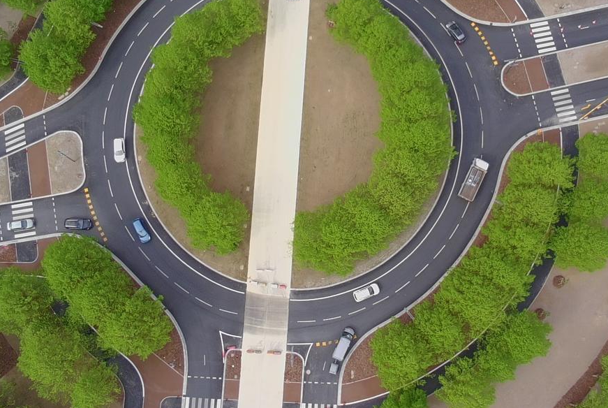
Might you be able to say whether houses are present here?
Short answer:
No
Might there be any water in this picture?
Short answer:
No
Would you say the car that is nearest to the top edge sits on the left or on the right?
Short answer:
right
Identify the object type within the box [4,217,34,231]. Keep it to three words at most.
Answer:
car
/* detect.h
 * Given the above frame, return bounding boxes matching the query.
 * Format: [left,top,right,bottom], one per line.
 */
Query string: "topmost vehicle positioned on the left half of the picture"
[111,136,124,161]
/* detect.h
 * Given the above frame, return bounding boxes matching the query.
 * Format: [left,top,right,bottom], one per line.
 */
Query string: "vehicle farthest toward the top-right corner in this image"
[445,20,467,43]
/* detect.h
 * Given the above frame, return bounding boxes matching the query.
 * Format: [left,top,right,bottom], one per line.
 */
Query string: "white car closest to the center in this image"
[351,283,381,302]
